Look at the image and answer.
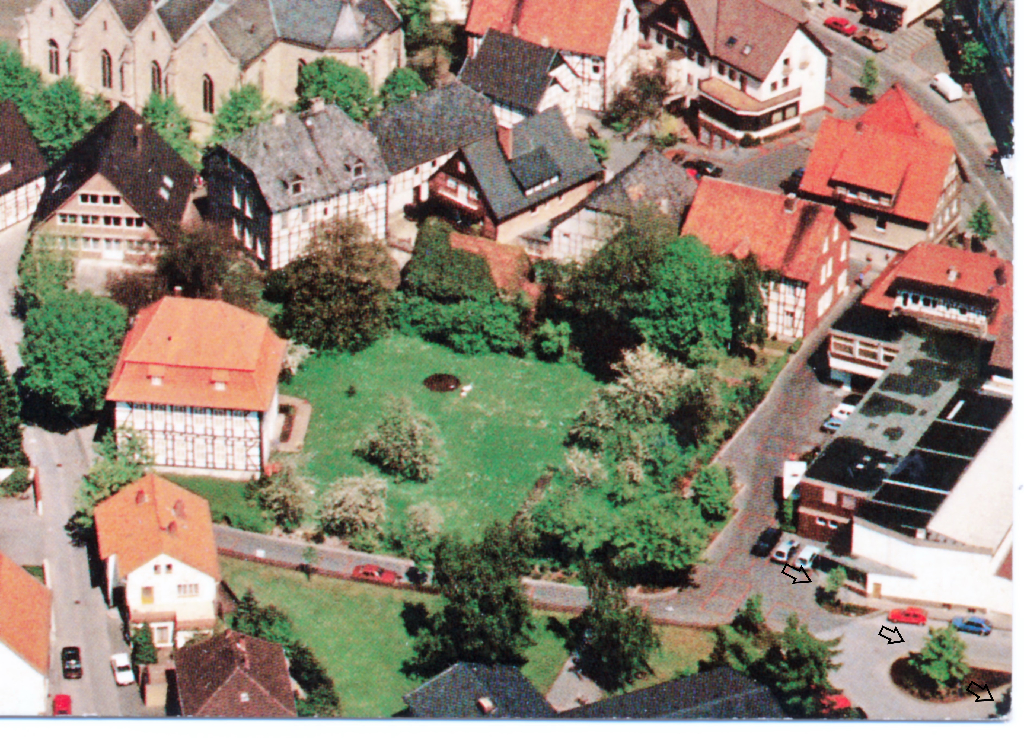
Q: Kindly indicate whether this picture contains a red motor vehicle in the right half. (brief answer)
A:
Yes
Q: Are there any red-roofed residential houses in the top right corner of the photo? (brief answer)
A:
Yes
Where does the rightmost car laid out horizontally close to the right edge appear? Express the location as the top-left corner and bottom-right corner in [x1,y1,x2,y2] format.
[950,614,994,637]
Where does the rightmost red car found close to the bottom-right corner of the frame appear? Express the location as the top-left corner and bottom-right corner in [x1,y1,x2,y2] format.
[886,605,929,627]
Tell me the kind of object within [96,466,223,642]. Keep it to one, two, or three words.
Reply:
house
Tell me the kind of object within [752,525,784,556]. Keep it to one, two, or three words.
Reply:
car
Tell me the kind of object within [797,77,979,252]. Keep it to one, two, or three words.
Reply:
house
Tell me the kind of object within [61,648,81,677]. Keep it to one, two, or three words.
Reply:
car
